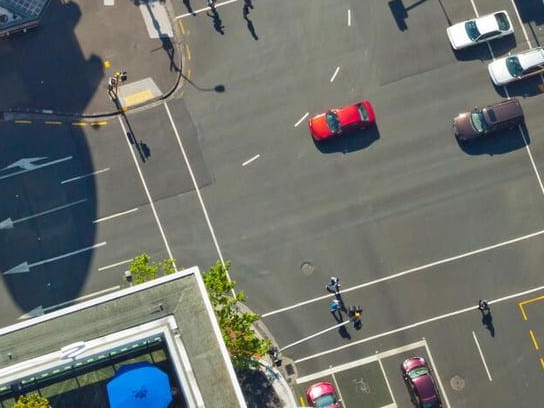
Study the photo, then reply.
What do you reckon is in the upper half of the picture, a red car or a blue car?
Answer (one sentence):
Looking in the upper half of the picture, you will find a red car.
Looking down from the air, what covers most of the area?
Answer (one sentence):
The largest share of the image is taken up by paved ground.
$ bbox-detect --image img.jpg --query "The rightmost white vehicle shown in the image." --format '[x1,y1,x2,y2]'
[487,44,544,88]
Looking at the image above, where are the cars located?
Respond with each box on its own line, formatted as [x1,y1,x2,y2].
[446,9,515,52]
[487,44,544,88]
[452,95,527,142]
[401,354,445,408]
[309,381,343,408]
[307,97,379,142]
